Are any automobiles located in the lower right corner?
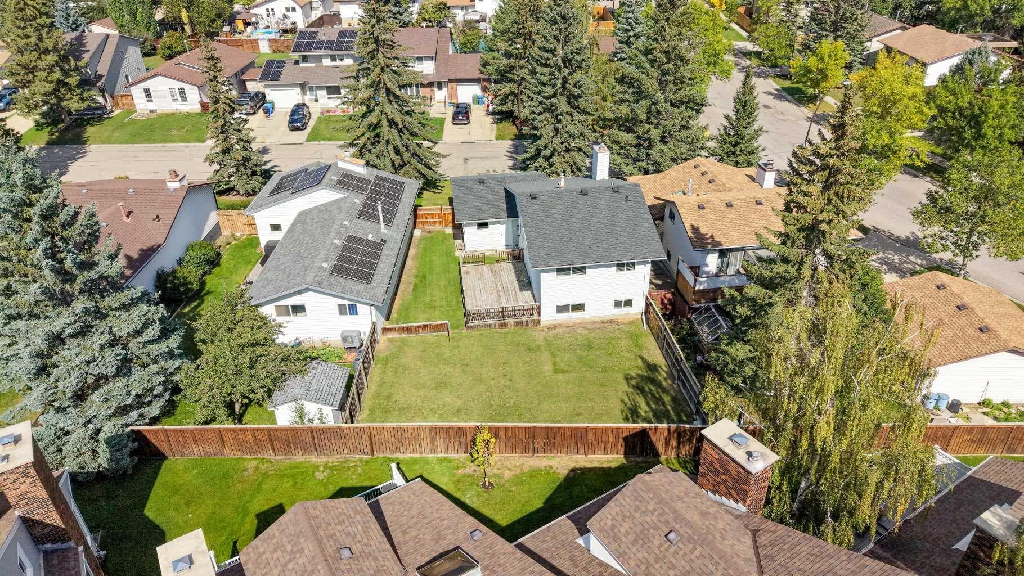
No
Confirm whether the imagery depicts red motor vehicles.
No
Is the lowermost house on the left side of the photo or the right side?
left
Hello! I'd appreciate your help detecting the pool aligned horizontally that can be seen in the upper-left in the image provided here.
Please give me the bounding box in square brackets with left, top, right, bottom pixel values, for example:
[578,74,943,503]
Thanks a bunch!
[244,30,279,44]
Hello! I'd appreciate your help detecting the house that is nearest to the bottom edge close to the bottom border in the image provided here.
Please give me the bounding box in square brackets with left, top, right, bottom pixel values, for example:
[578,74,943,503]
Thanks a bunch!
[151,526,219,576]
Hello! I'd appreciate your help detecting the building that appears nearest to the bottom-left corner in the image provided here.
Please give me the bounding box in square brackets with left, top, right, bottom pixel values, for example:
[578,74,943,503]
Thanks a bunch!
[0,420,113,576]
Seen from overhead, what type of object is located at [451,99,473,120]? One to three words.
car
